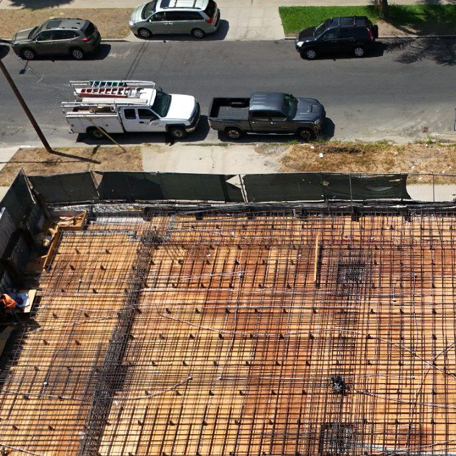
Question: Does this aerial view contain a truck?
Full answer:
Yes, you can see a truck in this photo.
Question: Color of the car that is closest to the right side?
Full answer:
In this view, the car that is closest to the right side is black.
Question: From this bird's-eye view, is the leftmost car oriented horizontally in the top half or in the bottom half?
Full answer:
The top half of the photo is where the leftmost car oriented horizontally is.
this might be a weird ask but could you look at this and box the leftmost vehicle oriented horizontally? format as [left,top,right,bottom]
[9,14,105,59]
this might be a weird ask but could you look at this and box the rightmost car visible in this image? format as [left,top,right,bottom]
[292,13,383,58]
